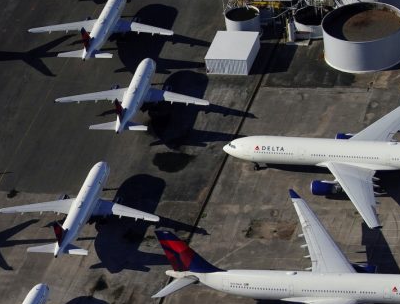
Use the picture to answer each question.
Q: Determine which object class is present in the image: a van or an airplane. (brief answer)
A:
airplane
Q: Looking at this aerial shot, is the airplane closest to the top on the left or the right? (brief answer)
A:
left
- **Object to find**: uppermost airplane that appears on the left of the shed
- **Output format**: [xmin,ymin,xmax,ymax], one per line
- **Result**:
[25,0,174,61]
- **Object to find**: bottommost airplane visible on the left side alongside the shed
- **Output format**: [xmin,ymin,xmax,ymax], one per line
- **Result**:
[53,57,210,133]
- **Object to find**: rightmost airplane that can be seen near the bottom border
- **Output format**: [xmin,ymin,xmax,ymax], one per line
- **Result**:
[153,187,400,304]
